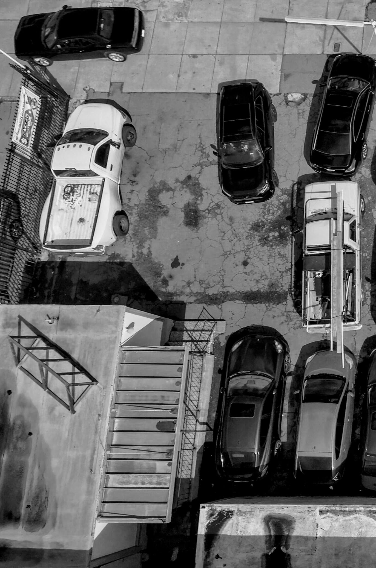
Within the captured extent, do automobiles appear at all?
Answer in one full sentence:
Yes, the picture does show an automobile.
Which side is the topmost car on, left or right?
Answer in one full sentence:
You can find the topmost car on the left side of the picture.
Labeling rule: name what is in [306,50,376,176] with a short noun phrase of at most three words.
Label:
car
